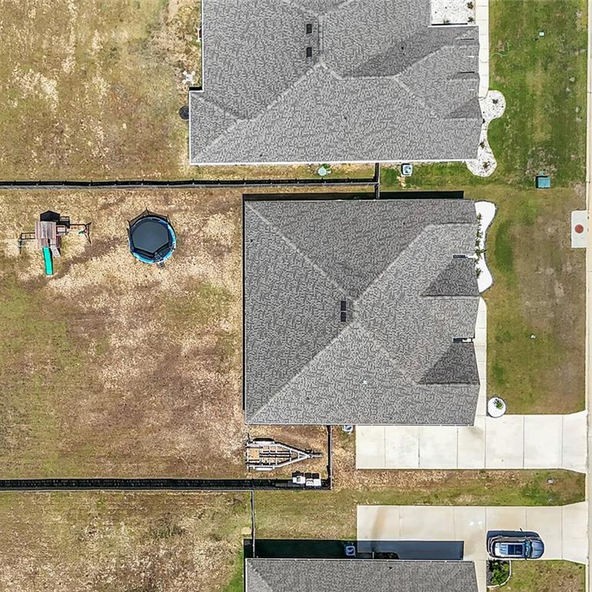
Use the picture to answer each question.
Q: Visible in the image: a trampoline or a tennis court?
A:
trampoline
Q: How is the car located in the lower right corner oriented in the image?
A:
from side to side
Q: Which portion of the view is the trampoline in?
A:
left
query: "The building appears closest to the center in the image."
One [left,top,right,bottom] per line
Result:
[243,199,479,427]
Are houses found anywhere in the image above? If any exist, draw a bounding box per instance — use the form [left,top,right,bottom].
[188,0,482,164]
[244,555,477,592]
[243,199,479,427]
